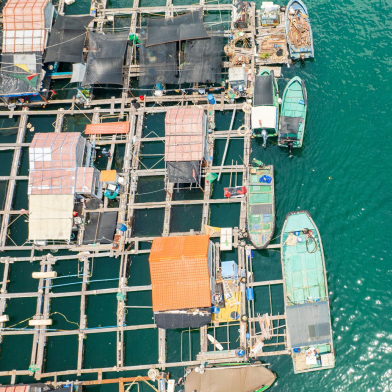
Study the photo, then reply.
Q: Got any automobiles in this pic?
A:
No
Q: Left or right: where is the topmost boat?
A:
right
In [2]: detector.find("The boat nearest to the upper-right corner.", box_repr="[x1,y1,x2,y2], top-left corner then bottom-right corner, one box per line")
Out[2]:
[285,0,313,70]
